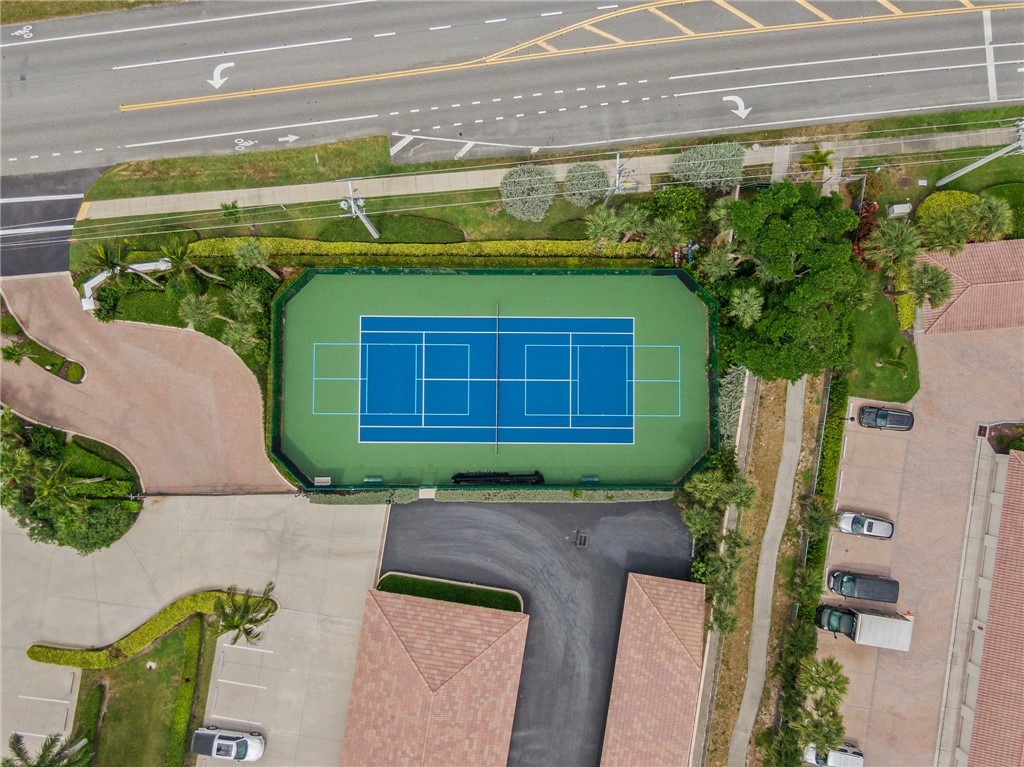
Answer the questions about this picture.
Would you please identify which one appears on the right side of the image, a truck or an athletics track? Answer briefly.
truck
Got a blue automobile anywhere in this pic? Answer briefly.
No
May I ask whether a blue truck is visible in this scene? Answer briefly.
No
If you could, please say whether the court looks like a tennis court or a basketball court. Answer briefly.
tennis court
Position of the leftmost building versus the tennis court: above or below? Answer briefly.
below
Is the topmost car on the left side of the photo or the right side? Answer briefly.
right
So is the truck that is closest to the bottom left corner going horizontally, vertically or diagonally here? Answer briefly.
horizontally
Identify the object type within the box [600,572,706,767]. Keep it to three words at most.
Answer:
building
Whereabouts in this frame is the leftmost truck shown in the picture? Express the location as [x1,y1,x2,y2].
[190,726,266,765]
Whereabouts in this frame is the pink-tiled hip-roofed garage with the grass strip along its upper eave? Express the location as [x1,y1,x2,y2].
[339,589,530,767]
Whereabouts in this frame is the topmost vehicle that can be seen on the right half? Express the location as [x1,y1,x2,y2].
[856,404,914,432]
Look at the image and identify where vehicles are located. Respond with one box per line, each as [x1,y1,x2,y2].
[836,512,894,539]
[815,602,913,650]
[804,741,870,767]
[826,569,900,604]
[856,404,914,432]
[190,726,266,765]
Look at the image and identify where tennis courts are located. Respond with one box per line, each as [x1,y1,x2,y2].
[283,275,709,486]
